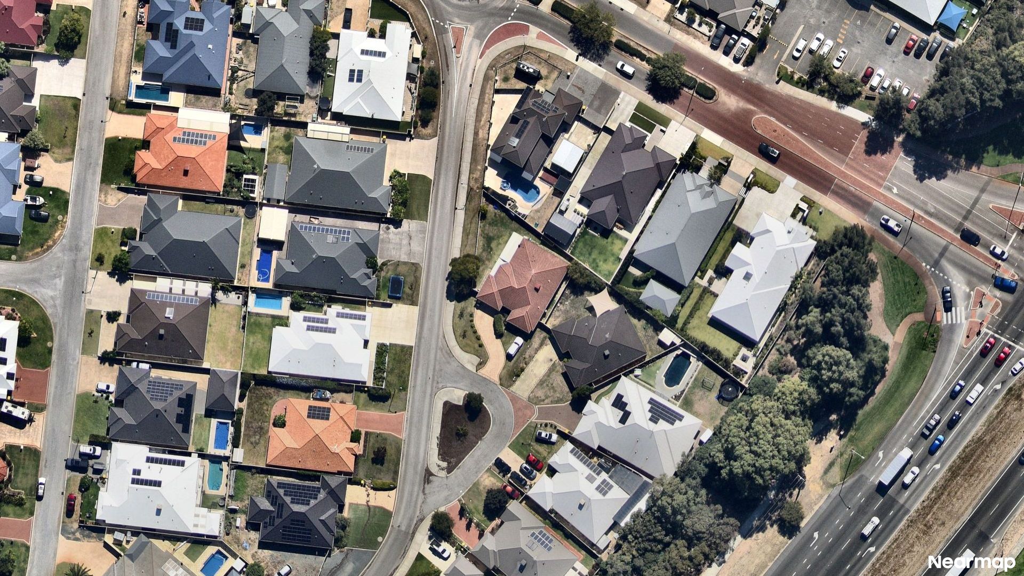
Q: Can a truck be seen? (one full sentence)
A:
Yes, this view includes a truck.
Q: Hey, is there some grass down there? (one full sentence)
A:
Yes, there's grass in this view.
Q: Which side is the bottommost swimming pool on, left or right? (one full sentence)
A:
You can find the bottommost swimming pool on the left side of the picture.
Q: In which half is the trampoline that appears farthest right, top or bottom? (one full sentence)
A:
The bottom half of the photo is where the trampoline that appears farthest right is.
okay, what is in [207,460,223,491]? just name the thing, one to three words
swimming pool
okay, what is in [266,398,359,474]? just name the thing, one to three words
house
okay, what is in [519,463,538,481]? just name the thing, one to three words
car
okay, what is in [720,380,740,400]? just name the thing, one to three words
trampoline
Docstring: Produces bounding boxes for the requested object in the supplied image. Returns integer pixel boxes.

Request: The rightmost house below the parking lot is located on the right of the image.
[710,212,817,342]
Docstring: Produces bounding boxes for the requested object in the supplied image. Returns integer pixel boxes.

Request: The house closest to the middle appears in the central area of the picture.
[476,235,570,334]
